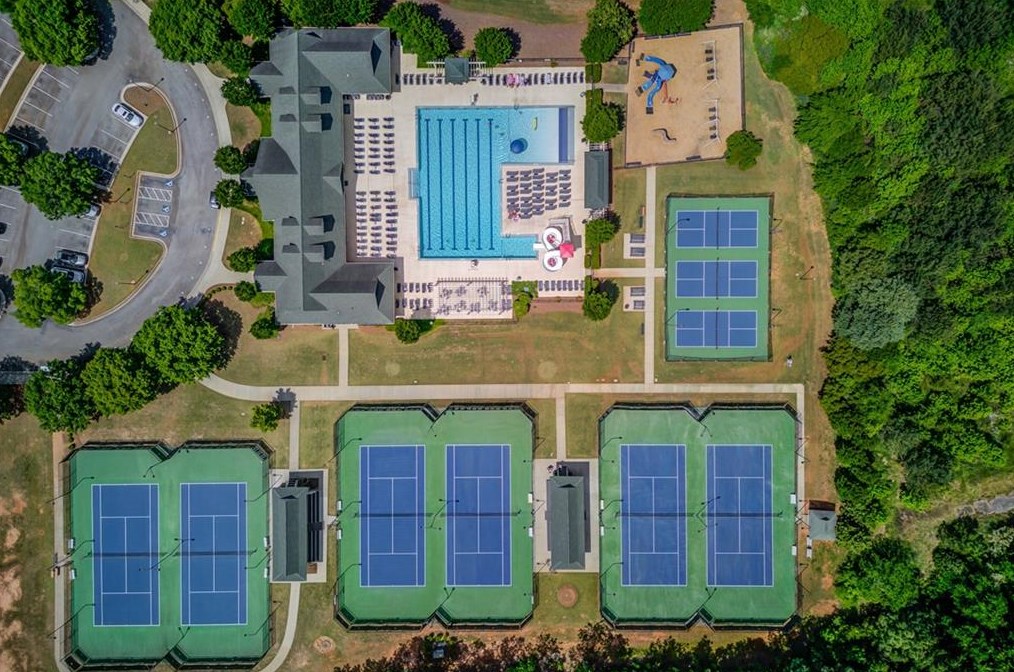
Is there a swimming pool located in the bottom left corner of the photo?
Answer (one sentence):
No, in the bottom left corner of the photo there is no swimming pool.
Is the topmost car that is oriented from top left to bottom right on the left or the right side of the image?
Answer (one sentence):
The topmost car that is oriented from top left to bottom right sits on the left side.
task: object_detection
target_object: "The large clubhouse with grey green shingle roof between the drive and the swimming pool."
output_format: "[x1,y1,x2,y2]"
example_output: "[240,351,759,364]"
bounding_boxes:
[239,27,395,324]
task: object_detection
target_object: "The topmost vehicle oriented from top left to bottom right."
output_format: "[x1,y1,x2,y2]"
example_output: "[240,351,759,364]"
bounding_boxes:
[111,103,140,126]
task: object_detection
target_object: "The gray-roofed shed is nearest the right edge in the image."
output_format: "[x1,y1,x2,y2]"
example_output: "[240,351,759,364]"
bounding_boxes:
[804,507,836,540]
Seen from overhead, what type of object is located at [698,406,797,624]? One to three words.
tennis court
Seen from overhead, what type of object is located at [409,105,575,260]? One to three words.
swimming pool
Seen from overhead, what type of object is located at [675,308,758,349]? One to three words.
sports court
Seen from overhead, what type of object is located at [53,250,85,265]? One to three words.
car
